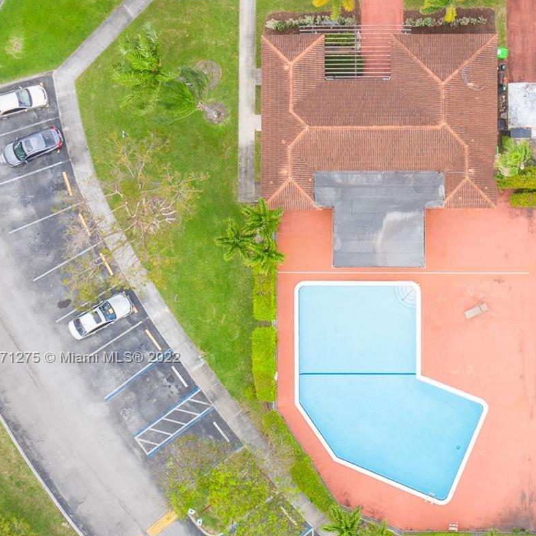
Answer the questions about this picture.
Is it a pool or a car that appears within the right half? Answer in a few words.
pool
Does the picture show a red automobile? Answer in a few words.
No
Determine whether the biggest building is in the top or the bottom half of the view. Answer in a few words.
top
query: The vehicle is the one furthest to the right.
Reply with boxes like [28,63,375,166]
[65,290,137,341]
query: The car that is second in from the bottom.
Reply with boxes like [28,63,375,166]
[2,128,67,167]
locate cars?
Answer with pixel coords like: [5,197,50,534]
[2,128,67,167]
[0,83,51,119]
[65,290,137,341]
